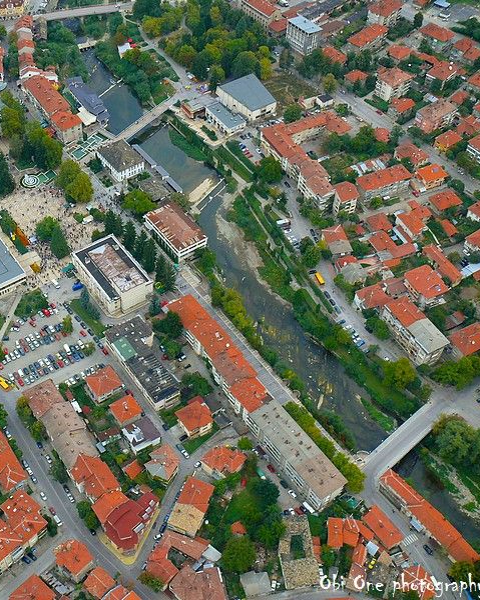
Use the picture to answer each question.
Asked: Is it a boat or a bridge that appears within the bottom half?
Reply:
bridge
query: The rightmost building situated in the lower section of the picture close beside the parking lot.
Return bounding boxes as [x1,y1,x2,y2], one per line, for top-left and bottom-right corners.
[168,294,348,512]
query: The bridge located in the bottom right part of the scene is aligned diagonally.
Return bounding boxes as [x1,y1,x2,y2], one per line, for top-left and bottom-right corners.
[361,398,449,479]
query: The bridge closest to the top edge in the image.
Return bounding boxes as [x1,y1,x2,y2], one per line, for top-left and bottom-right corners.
[27,1,137,24]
